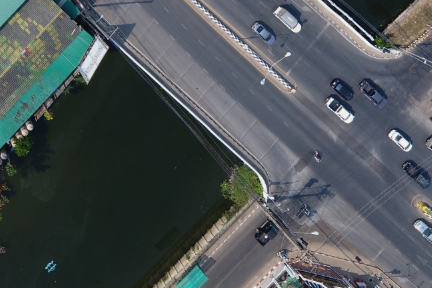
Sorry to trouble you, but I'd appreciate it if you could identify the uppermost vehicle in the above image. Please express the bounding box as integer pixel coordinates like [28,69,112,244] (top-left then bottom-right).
[272,6,300,31]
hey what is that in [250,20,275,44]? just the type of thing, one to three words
car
